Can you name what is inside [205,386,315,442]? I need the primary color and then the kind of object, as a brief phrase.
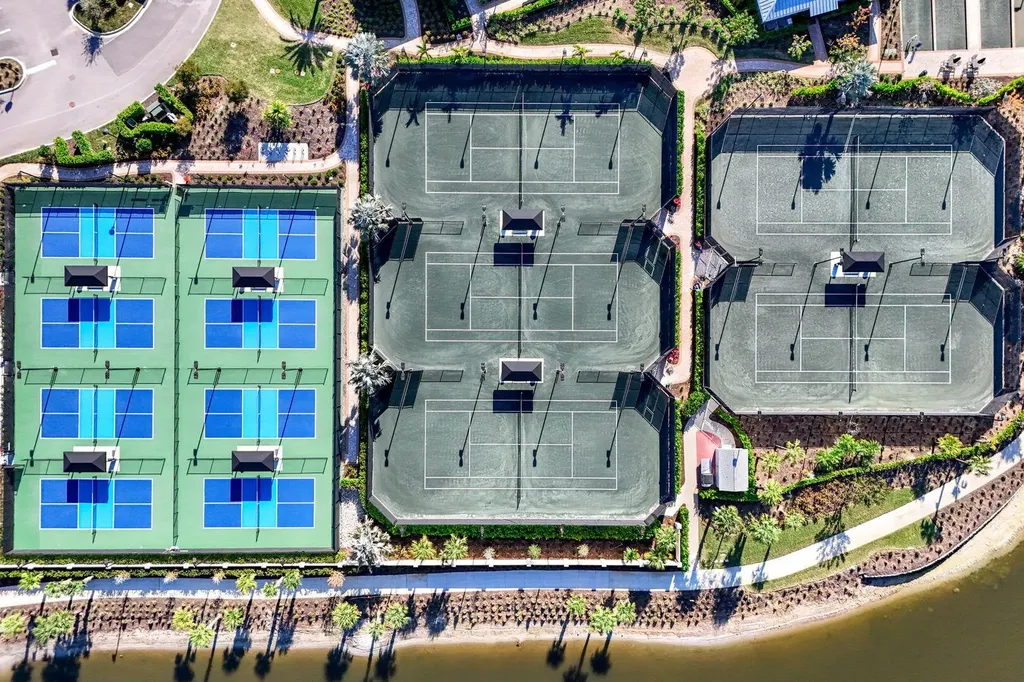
blue sports court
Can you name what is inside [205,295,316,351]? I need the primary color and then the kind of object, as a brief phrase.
blue sports court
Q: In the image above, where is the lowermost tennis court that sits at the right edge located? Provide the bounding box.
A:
[706,265,1003,413]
